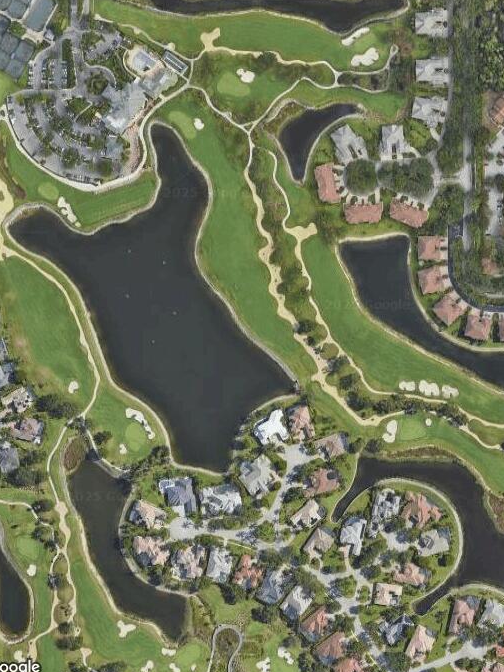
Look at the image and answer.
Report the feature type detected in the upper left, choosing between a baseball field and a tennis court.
tennis court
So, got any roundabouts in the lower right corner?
No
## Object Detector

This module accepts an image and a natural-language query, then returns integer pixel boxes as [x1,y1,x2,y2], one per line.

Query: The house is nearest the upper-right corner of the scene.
[414,9,448,36]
